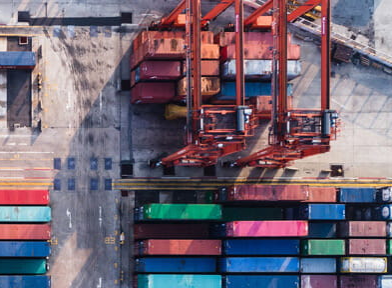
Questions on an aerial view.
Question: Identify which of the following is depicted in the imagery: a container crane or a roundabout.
container crane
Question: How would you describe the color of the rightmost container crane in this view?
red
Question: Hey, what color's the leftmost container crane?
red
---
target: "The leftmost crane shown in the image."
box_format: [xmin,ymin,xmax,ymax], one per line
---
[137,0,251,165]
